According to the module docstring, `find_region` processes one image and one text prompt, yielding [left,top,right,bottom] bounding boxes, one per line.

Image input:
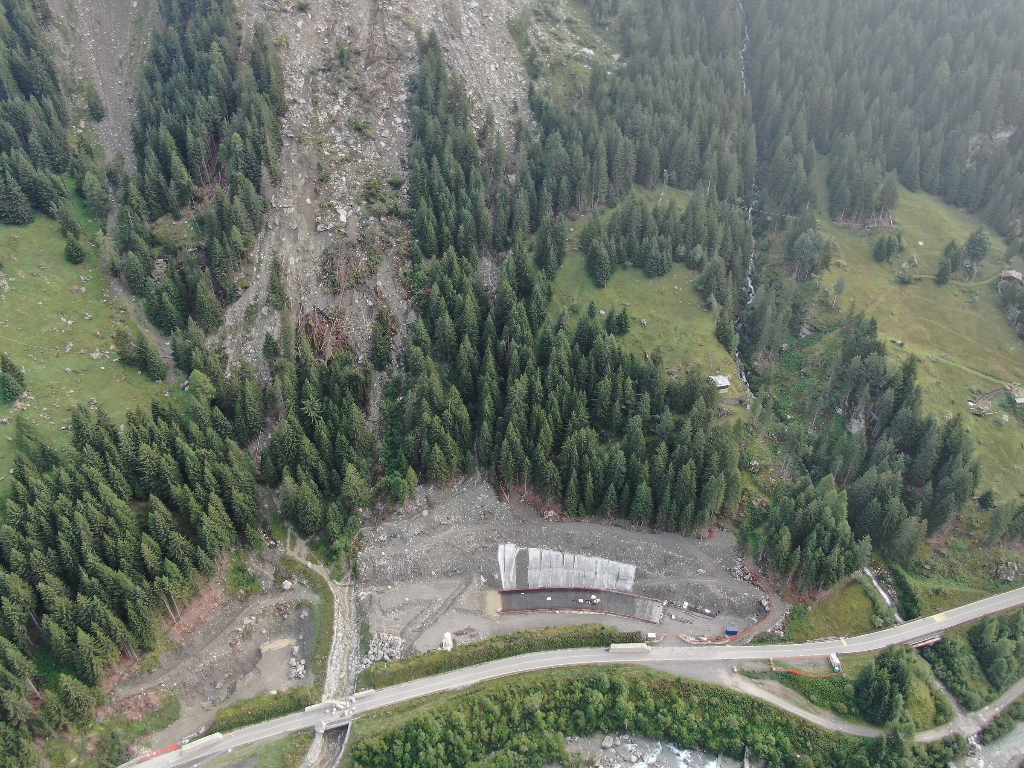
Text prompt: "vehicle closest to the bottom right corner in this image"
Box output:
[825,648,842,668]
